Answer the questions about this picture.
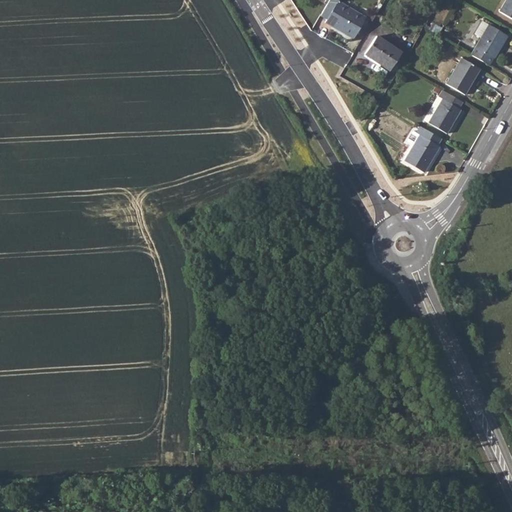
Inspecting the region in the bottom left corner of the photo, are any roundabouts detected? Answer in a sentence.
No, there is no roundabout in the bottom left corner of the photo.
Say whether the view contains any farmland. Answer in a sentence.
Yes, there is farmland in the image.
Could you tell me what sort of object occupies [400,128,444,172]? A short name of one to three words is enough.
house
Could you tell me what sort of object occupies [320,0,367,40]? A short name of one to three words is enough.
house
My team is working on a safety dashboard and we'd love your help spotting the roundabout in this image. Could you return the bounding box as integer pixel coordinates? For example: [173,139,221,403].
[375,214,434,274]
